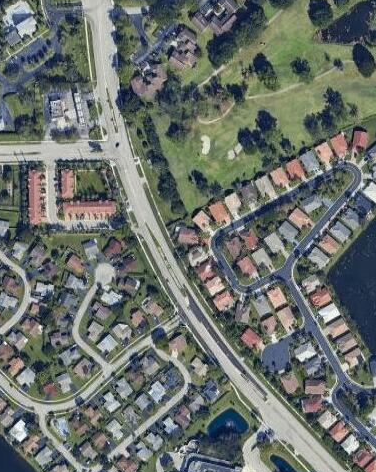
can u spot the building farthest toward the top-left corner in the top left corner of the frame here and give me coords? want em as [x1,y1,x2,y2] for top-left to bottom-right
[2,0,36,45]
